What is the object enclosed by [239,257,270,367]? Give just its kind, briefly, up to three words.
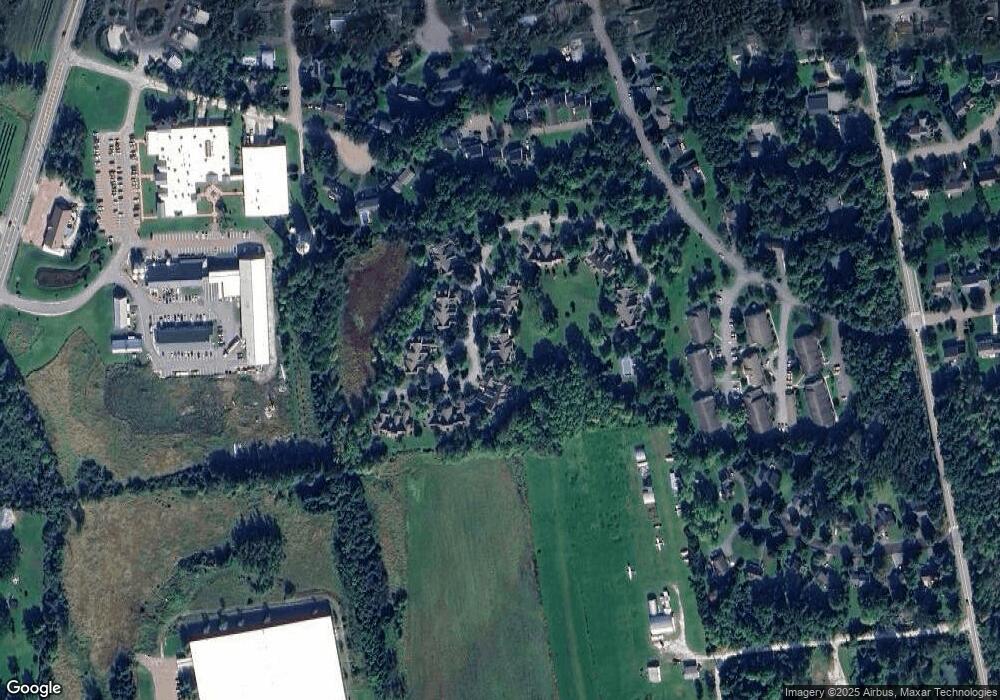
barn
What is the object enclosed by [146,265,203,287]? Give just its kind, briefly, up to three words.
barn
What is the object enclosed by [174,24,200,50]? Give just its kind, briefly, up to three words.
house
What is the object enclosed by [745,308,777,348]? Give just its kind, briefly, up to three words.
building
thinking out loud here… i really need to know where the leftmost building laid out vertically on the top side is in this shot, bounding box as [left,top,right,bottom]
[44,207,71,250]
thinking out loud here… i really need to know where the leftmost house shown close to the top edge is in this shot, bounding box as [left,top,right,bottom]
[109,25,125,48]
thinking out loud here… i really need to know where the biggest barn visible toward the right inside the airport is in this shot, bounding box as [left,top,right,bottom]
[649,614,675,634]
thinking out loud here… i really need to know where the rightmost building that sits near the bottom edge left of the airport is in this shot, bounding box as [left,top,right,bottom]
[190,610,348,700]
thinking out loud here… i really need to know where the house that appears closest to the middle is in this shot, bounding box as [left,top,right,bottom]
[489,324,518,364]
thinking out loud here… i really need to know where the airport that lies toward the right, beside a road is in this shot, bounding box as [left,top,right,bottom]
[526,426,706,700]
